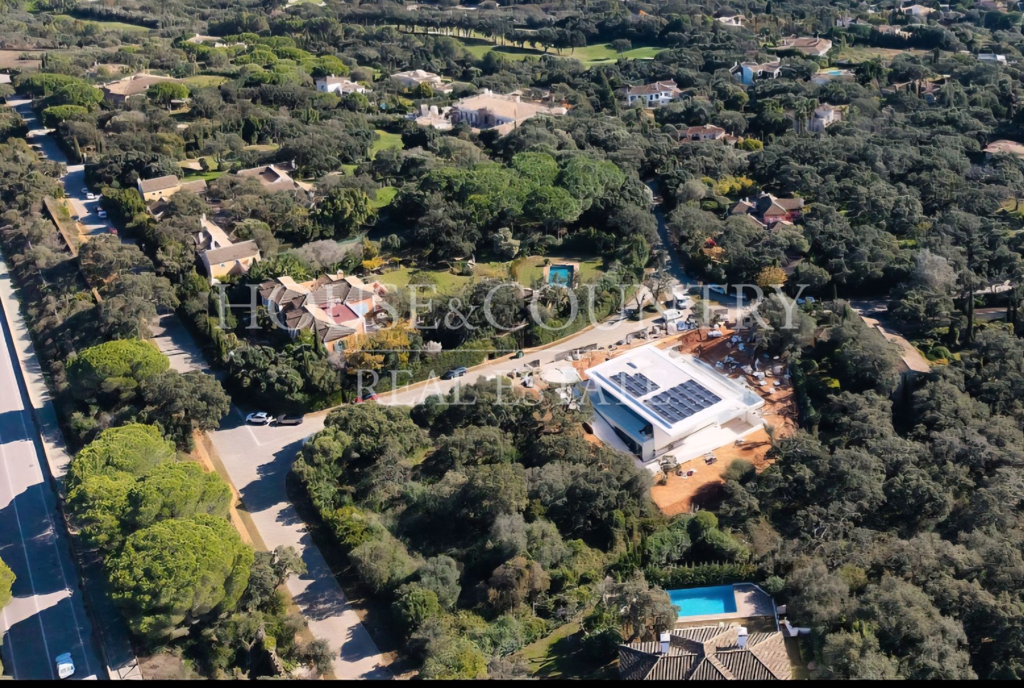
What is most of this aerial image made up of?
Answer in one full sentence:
The largest share of the image is taken up by trees.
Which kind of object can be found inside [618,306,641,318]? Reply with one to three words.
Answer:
vehicle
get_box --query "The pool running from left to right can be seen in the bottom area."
[660,583,775,631]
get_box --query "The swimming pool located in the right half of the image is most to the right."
[812,69,853,84]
